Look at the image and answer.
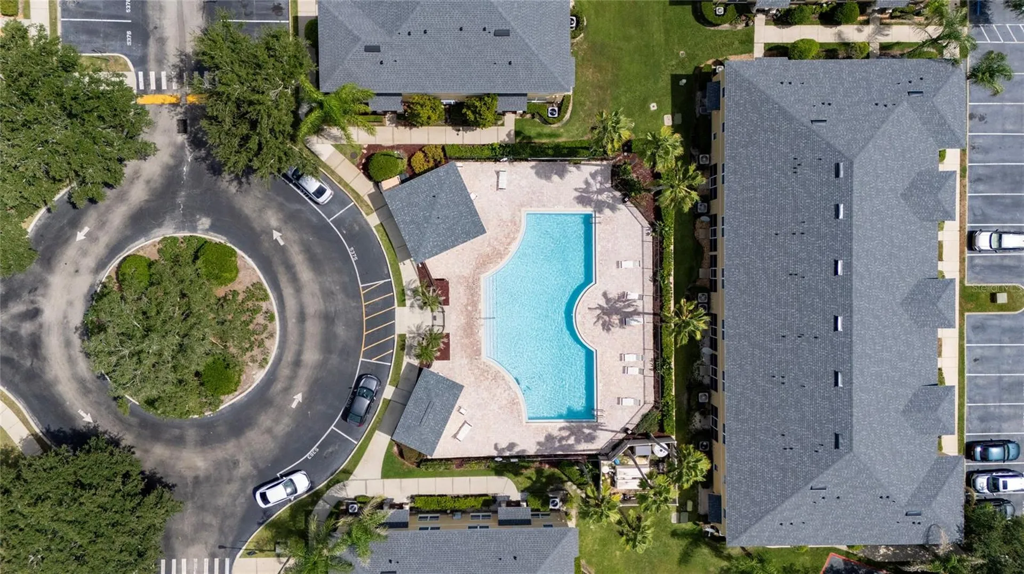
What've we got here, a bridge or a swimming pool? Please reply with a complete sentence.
Visible in the photo is a swimming pool.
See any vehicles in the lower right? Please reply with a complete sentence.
Yes, you'll find a vehicle in the lower right.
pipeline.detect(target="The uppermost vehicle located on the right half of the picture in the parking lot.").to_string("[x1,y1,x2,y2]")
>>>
[971,228,1024,254]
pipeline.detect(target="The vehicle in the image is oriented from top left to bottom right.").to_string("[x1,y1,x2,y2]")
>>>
[284,165,336,208]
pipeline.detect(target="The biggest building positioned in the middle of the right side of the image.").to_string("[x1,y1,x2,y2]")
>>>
[696,59,967,547]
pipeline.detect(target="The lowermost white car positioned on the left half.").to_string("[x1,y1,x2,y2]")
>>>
[254,469,312,508]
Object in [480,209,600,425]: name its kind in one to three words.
swimming pool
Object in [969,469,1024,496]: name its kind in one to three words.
car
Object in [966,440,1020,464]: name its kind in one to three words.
car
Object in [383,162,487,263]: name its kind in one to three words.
building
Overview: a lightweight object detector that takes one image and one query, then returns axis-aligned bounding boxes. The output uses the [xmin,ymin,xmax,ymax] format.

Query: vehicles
[971,228,1024,254]
[254,469,312,508]
[344,372,381,428]
[284,165,336,208]
[966,440,1020,464]
[966,497,1019,524]
[969,469,1024,496]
